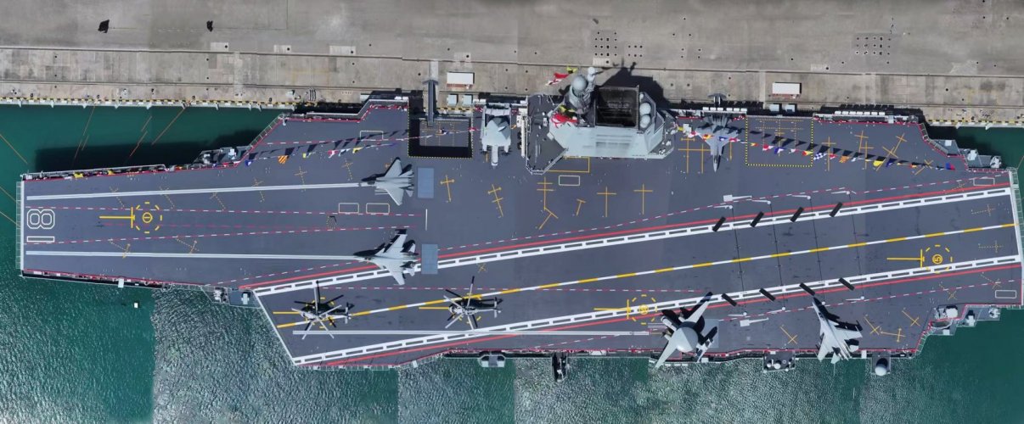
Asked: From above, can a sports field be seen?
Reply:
No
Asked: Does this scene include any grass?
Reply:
No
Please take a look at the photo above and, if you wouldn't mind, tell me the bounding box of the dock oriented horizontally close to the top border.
[0,0,1024,135]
